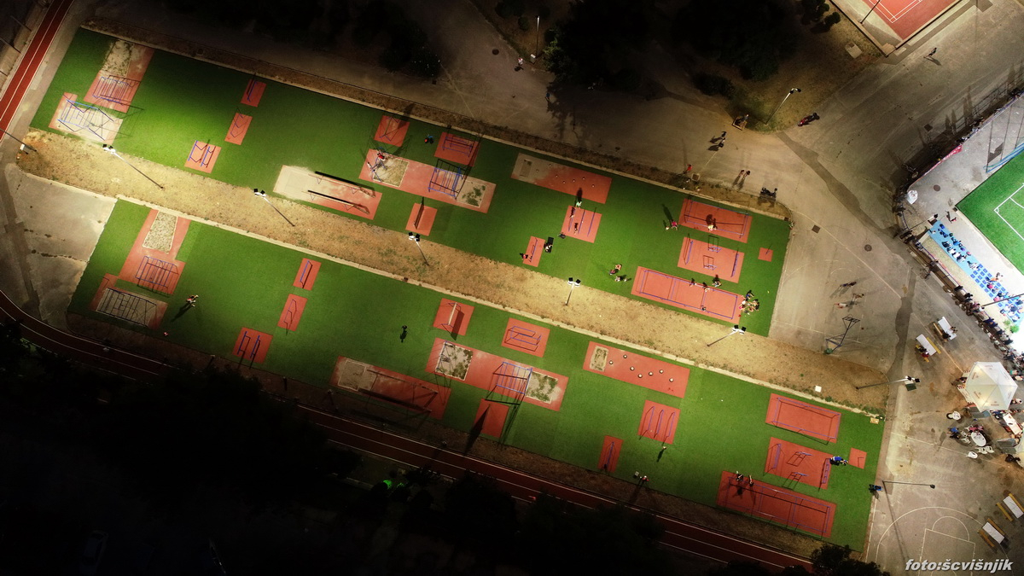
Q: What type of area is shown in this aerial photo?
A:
sports ground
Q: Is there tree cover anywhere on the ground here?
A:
Yes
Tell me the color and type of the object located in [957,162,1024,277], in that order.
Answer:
green soccer field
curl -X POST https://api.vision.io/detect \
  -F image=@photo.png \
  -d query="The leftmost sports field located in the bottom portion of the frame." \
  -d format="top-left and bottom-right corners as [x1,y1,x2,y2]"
[66,195,886,553]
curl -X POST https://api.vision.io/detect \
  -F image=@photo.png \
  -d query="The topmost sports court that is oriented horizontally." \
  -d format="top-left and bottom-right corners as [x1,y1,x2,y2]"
[828,0,963,58]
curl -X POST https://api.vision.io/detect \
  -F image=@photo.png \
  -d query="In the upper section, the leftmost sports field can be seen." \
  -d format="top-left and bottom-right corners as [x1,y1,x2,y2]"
[29,26,791,336]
